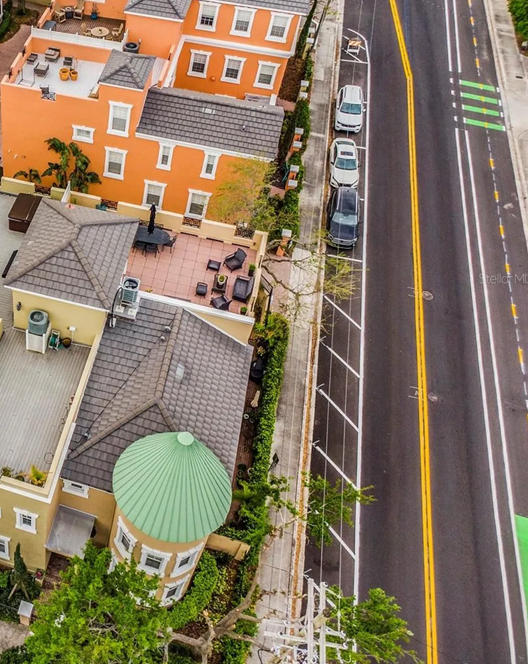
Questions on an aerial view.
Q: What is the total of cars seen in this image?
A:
3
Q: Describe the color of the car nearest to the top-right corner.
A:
white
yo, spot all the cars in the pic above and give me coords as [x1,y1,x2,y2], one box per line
[336,89,370,140]
[329,190,370,255]
[332,145,368,193]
